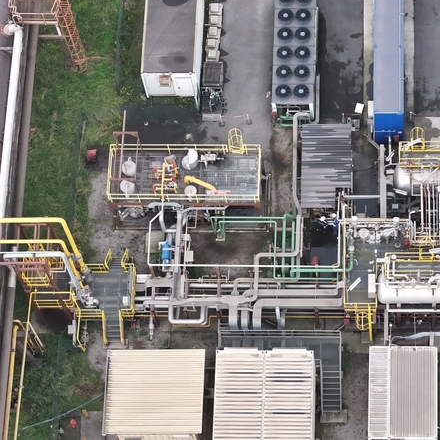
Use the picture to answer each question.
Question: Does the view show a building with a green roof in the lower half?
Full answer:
No, there is no building with a green roof in the lower half.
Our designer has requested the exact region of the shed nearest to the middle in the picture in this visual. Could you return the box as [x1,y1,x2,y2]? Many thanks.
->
[300,123,355,223]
